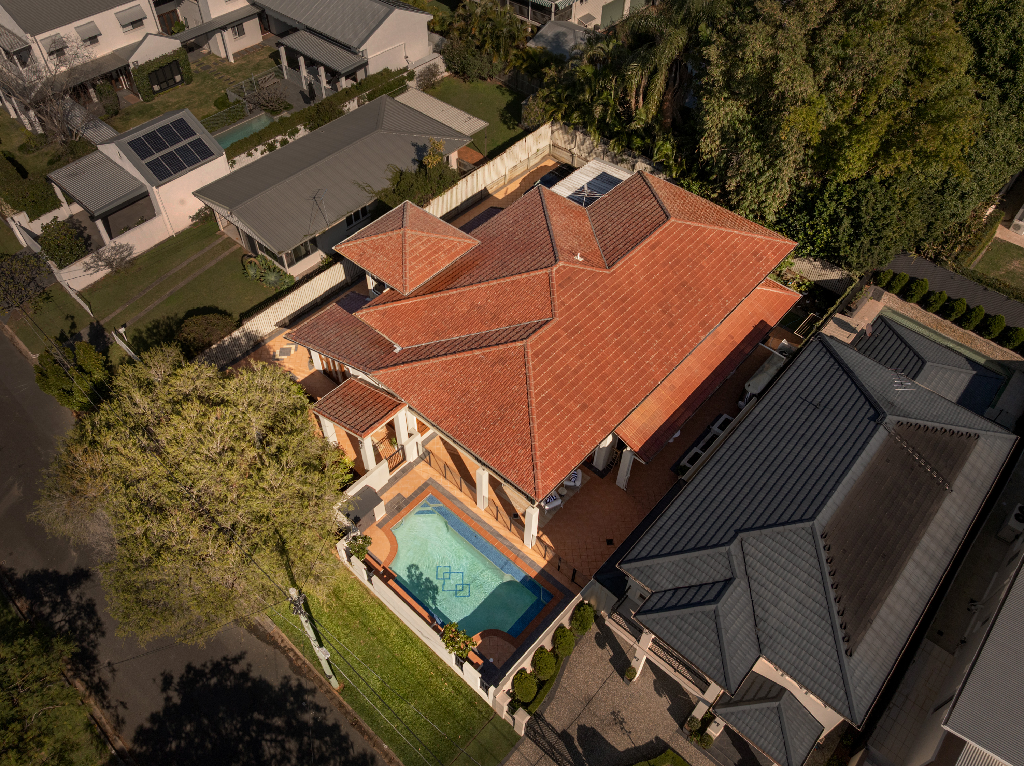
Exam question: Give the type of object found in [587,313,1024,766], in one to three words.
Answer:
house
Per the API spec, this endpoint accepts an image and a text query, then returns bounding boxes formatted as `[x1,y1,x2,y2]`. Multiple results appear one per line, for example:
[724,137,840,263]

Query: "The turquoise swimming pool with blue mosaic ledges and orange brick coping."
[380,485,565,663]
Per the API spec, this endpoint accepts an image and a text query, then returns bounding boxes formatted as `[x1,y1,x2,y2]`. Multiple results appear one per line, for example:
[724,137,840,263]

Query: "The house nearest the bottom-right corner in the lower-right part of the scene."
[899,519,1024,766]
